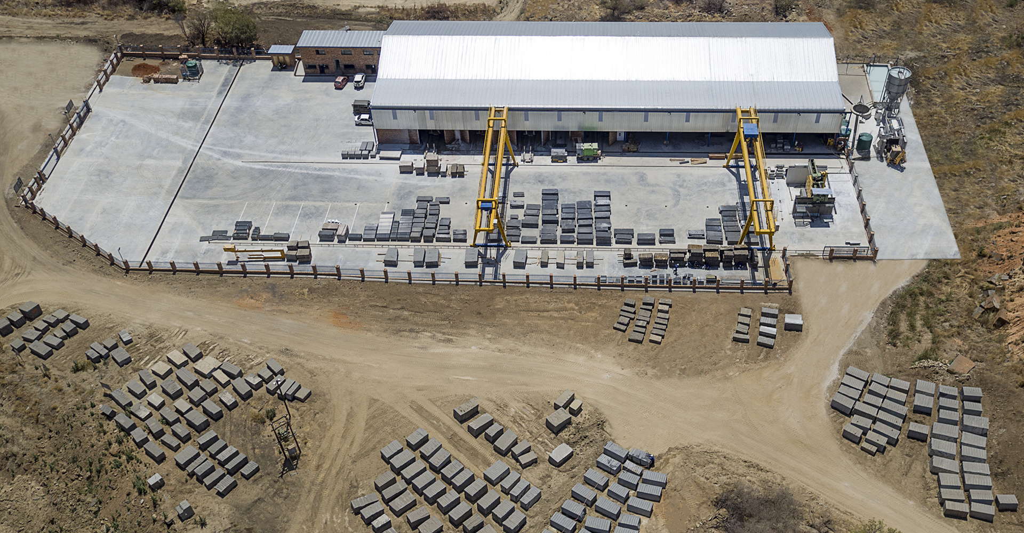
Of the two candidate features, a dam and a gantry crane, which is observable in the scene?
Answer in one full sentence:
It is a gantry crane that can be seen here.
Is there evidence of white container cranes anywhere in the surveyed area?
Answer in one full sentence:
No, the scene contains no white container crane.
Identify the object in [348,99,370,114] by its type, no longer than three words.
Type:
car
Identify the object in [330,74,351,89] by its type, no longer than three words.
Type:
car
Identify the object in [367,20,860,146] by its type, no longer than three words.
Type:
shed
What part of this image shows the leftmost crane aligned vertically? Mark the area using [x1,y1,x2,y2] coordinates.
[470,108,520,247]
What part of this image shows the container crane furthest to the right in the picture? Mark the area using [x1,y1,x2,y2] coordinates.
[725,107,779,247]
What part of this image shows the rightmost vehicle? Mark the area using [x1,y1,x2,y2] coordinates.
[884,143,904,172]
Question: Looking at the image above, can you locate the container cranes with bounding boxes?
[470,108,520,247]
[725,107,779,247]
